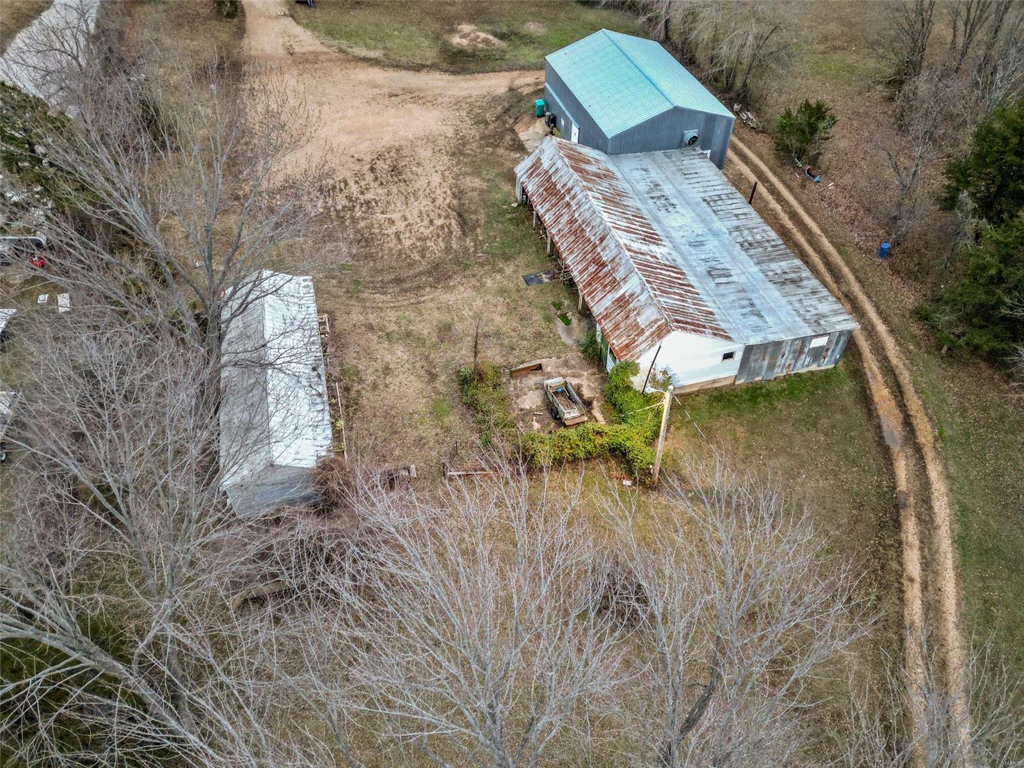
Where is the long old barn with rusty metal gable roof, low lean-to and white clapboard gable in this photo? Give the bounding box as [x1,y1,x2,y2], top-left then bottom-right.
[517,136,860,409]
